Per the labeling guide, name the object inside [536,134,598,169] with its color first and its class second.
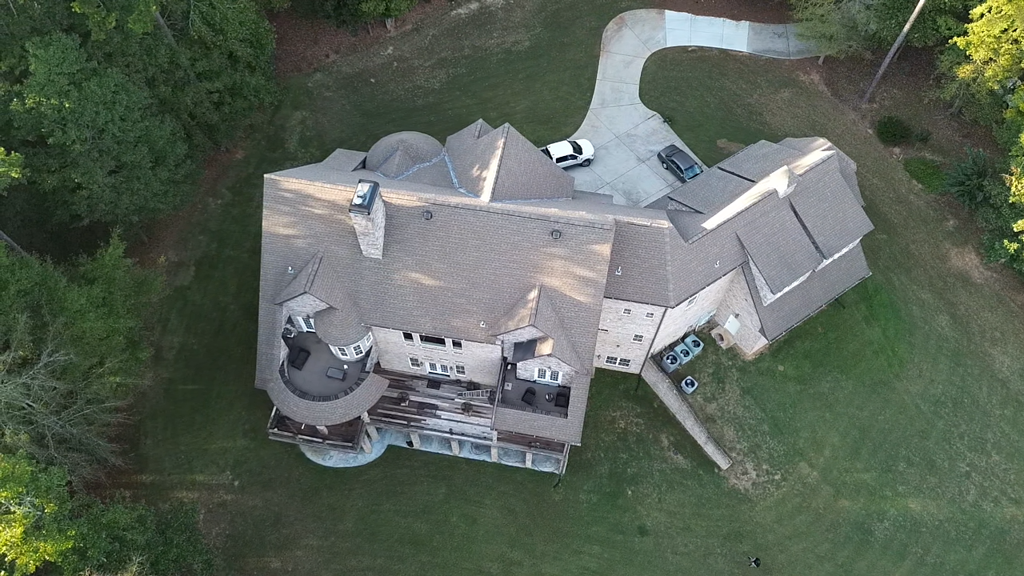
white car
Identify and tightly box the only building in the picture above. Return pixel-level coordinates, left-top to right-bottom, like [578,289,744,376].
[256,118,876,454]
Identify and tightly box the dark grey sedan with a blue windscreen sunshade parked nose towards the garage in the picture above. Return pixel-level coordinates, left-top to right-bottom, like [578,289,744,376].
[661,139,710,181]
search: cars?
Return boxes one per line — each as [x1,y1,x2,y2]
[661,139,710,181]
[536,134,598,169]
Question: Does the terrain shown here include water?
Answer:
No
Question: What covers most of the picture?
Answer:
grass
